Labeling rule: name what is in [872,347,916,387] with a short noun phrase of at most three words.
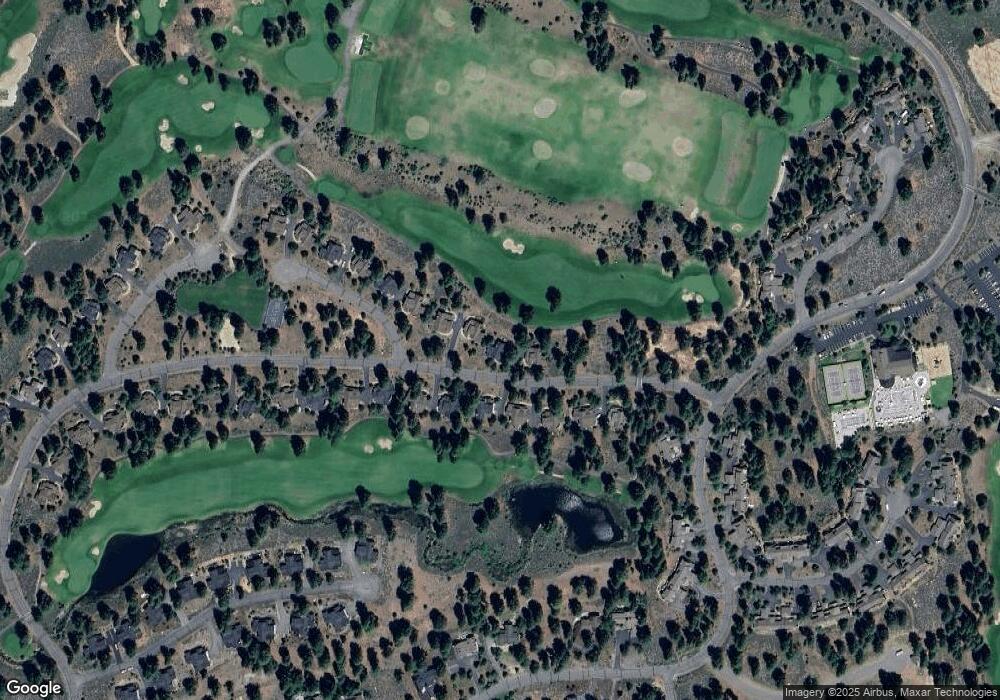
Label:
building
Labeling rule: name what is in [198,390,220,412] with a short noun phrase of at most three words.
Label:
house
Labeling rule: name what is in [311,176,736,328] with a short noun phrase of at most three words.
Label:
golf course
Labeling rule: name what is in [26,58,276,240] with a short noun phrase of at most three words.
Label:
golf course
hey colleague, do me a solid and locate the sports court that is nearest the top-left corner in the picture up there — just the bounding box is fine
[265,299,286,328]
